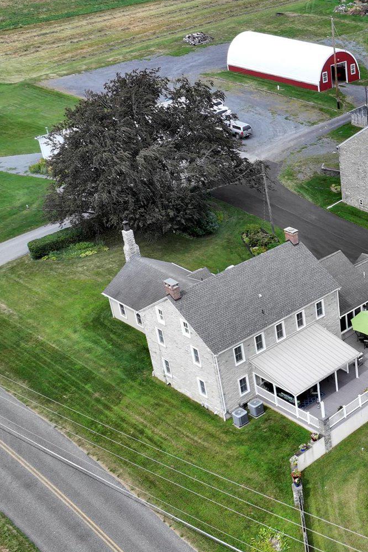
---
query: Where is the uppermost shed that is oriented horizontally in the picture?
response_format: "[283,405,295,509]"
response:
[233,31,358,91]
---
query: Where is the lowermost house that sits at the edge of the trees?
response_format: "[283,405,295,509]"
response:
[104,225,368,420]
